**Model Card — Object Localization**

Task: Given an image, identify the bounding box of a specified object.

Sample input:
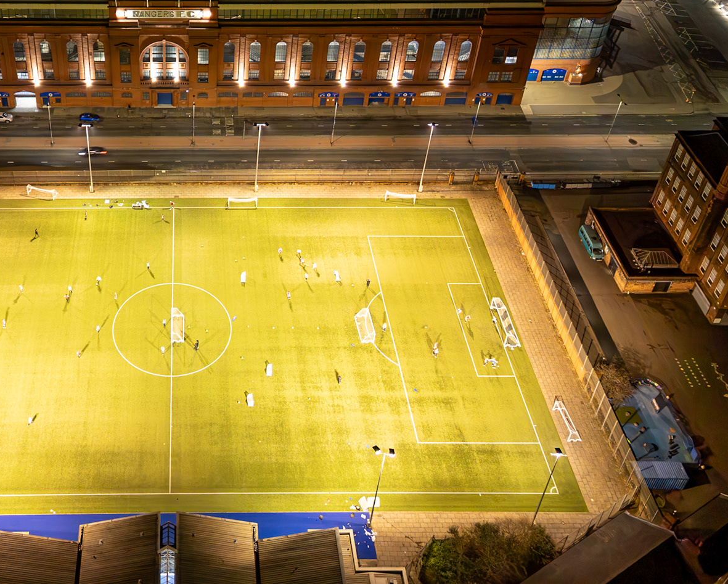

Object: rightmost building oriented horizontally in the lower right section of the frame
[528,508,697,584]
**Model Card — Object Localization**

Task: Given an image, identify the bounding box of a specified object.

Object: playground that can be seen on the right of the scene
[611,405,646,428]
